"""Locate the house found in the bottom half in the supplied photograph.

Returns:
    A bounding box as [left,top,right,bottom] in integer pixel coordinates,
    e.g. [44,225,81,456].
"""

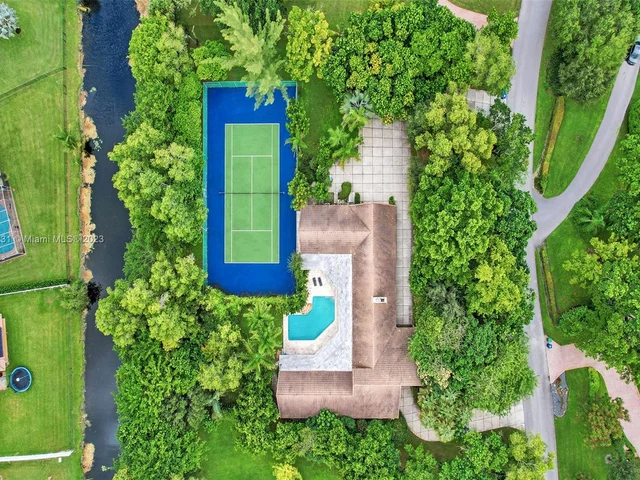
[276,202,421,419]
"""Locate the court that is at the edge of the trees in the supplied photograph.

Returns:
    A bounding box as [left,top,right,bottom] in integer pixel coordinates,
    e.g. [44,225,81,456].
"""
[208,88,296,296]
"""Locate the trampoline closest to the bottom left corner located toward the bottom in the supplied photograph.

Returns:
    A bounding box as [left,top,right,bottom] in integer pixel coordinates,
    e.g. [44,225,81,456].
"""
[5,366,33,395]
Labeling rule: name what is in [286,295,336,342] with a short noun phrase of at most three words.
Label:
swimming pool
